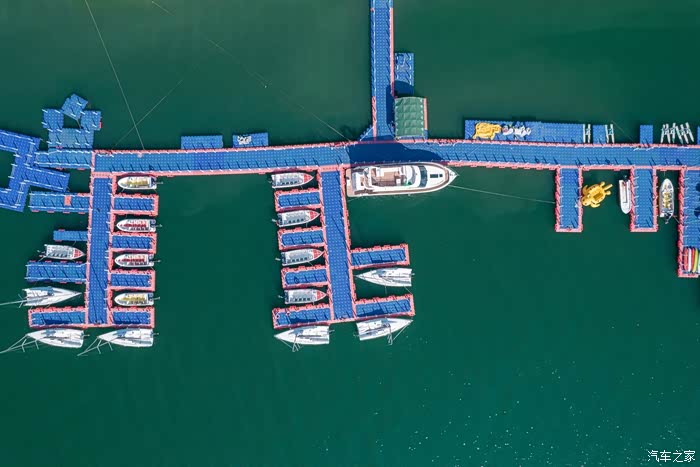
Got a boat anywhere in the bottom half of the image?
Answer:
Yes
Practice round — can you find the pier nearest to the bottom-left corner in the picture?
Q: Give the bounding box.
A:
[26,306,87,327]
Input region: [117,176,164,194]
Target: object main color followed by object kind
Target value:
white boat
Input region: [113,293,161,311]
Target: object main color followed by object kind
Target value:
white boat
